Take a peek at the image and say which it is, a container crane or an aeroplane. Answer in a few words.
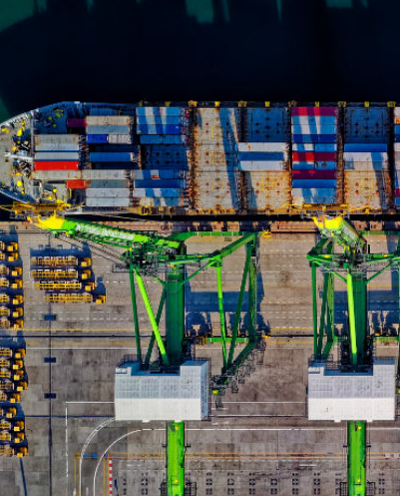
container crane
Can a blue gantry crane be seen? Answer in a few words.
No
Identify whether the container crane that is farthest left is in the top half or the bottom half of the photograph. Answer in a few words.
bottom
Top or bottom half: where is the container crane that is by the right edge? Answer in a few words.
bottom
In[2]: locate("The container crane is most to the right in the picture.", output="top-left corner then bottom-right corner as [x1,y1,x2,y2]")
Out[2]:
[283,198,400,496]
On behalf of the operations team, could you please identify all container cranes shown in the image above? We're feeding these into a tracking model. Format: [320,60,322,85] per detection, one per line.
[283,198,400,496]
[4,198,275,496]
